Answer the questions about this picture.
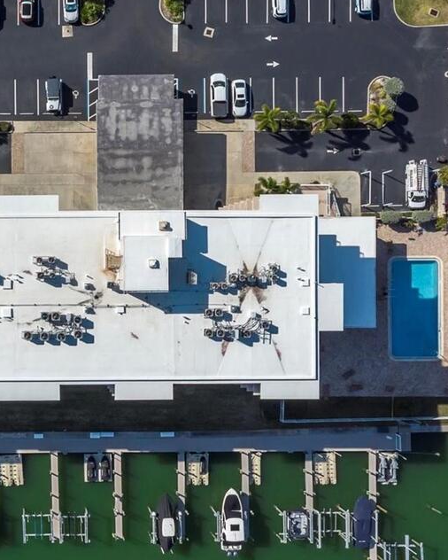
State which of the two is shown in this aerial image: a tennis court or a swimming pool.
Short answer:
swimming pool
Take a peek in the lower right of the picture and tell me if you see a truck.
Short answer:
No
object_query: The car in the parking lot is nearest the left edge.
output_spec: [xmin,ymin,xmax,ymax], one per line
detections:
[19,0,35,25]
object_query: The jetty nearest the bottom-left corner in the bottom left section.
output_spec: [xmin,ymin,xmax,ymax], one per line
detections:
[49,454,63,539]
